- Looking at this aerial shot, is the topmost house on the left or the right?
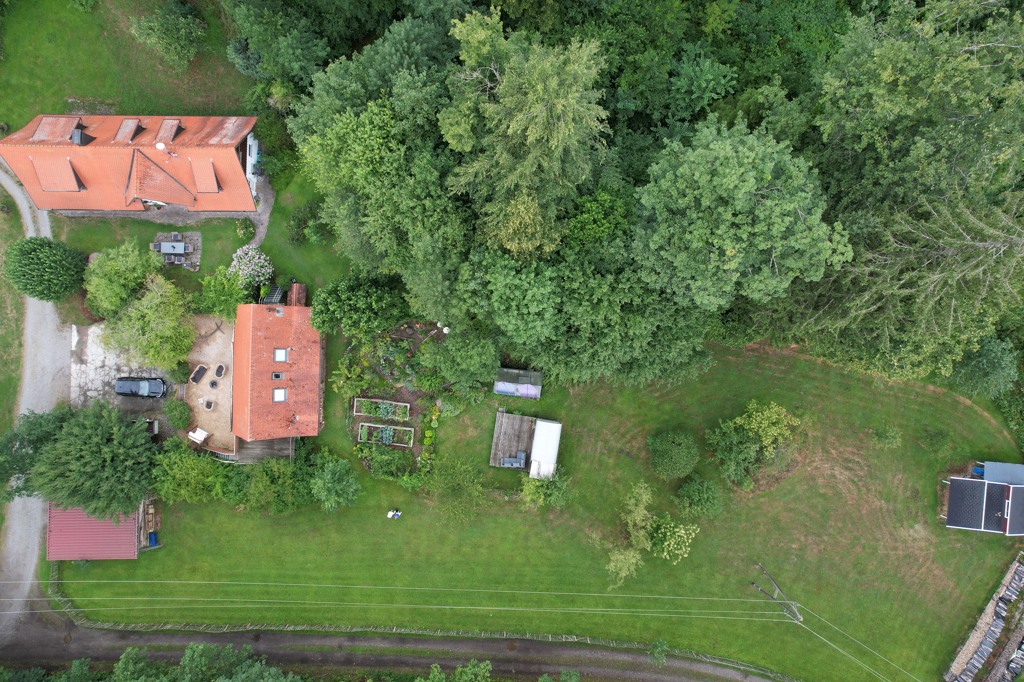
left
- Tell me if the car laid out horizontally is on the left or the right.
left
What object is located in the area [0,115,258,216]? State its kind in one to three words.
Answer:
house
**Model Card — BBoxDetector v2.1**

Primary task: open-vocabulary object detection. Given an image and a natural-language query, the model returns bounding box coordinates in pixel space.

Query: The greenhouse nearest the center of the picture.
[493,367,543,398]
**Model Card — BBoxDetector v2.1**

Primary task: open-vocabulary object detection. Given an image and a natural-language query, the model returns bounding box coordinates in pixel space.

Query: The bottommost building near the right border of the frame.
[932,477,1024,536]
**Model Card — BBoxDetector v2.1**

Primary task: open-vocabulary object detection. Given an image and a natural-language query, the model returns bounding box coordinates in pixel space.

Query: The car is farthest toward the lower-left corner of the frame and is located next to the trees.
[114,376,169,400]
